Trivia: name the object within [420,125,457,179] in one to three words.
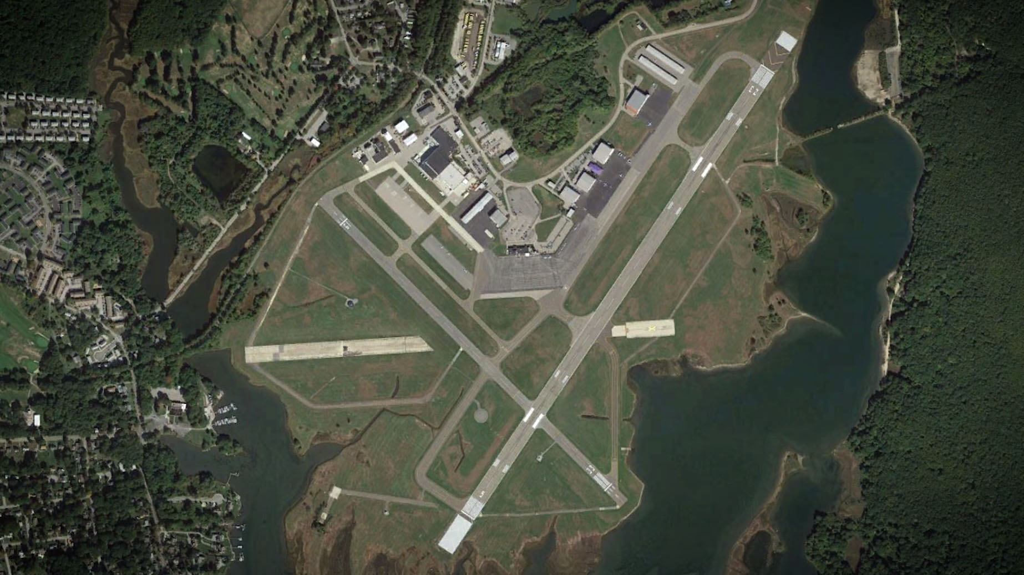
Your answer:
building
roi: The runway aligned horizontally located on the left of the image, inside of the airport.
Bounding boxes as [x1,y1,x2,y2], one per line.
[245,336,433,363]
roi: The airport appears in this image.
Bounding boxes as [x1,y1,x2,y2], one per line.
[245,31,797,554]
